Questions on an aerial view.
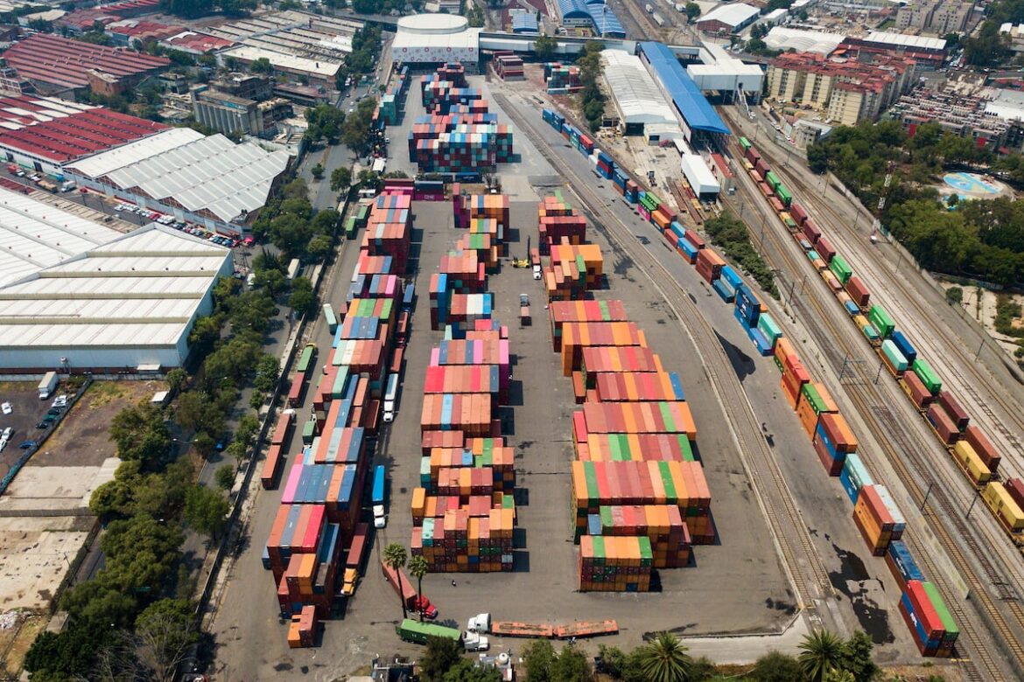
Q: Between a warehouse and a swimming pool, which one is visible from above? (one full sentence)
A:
Looking from above, you can make out a warehouse.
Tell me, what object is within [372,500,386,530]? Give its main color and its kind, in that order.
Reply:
white vehicle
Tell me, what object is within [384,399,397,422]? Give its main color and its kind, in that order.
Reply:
white vehicle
